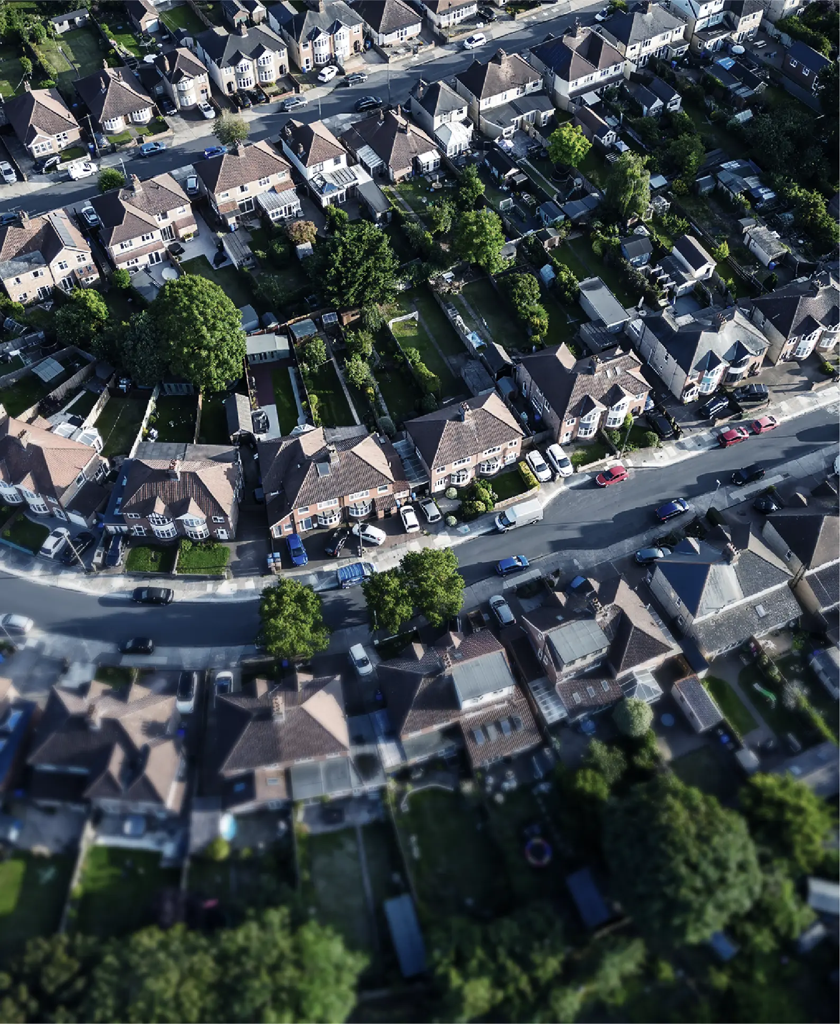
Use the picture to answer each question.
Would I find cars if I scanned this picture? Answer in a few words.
Yes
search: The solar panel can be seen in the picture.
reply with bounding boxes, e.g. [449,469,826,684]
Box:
[545,39,576,69]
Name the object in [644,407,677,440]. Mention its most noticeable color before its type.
black car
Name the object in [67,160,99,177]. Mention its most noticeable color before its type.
white car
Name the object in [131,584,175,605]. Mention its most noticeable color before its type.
black car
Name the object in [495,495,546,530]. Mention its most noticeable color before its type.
white van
